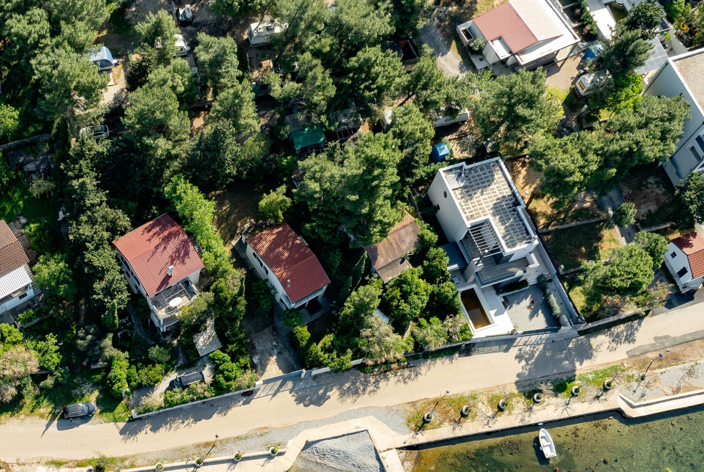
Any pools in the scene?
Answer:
Yes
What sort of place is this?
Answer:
residential area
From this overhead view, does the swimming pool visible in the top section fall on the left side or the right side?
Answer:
right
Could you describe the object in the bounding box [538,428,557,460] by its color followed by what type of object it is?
white boat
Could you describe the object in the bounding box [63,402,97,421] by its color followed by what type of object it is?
gray car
